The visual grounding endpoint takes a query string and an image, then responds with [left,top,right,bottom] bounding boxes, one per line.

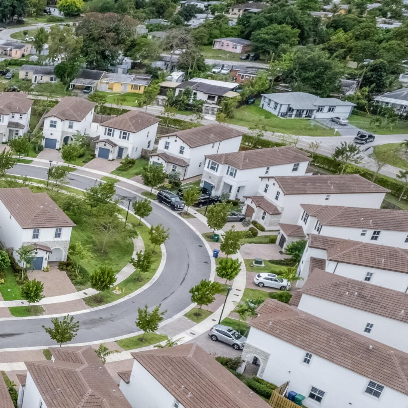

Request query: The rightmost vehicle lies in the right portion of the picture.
[353,130,376,143]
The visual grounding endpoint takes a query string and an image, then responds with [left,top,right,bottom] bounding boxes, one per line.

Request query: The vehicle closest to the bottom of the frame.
[206,319,241,347]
